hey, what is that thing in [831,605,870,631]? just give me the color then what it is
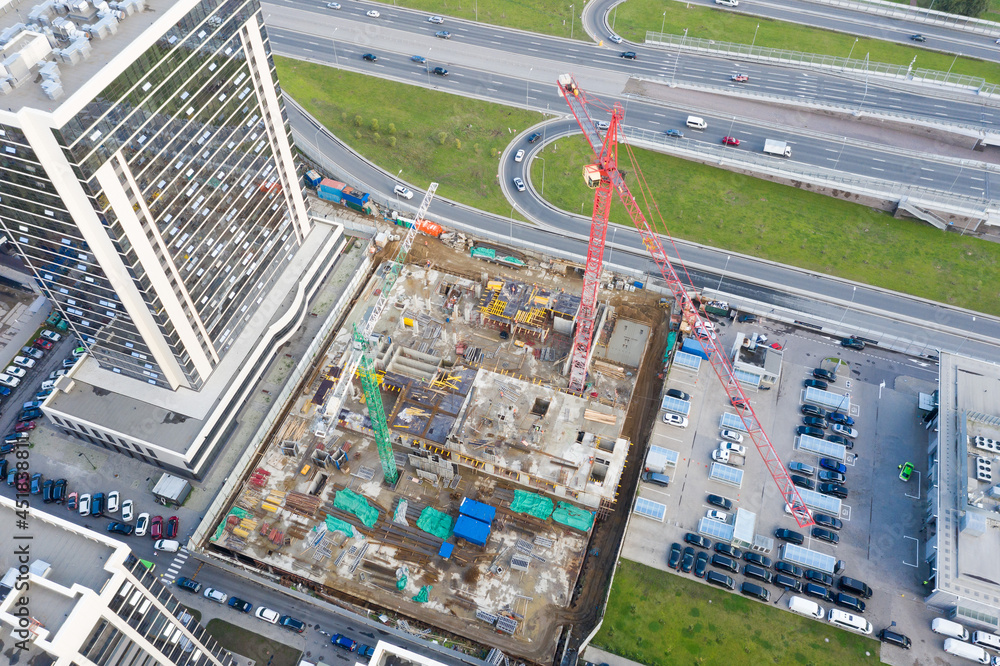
white vehicle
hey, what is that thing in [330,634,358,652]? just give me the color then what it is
blue car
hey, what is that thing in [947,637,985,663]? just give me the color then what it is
white vehicle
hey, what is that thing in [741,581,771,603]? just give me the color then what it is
black car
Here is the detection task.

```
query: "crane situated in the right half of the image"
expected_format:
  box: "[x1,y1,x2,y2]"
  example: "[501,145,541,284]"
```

[553,82,815,530]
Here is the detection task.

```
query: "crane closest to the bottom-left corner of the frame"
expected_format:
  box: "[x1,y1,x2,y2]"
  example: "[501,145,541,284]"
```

[318,187,438,485]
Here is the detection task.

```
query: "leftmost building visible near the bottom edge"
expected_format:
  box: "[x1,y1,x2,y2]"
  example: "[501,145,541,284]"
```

[0,494,214,666]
